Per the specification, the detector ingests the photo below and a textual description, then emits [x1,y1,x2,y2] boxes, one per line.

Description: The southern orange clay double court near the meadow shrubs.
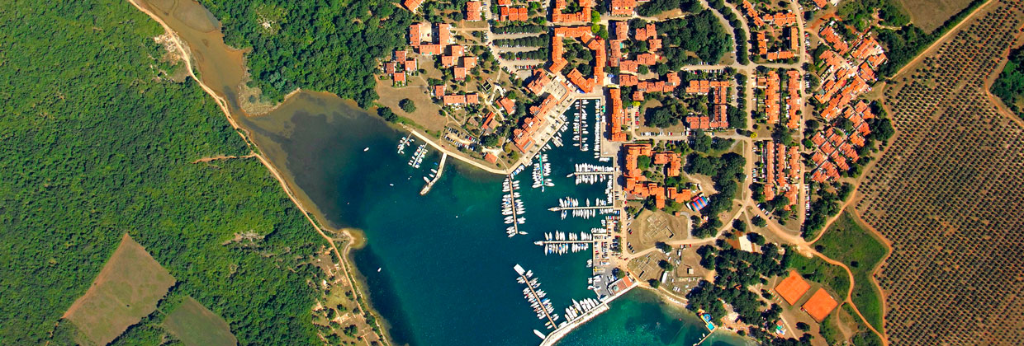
[801,287,838,324]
